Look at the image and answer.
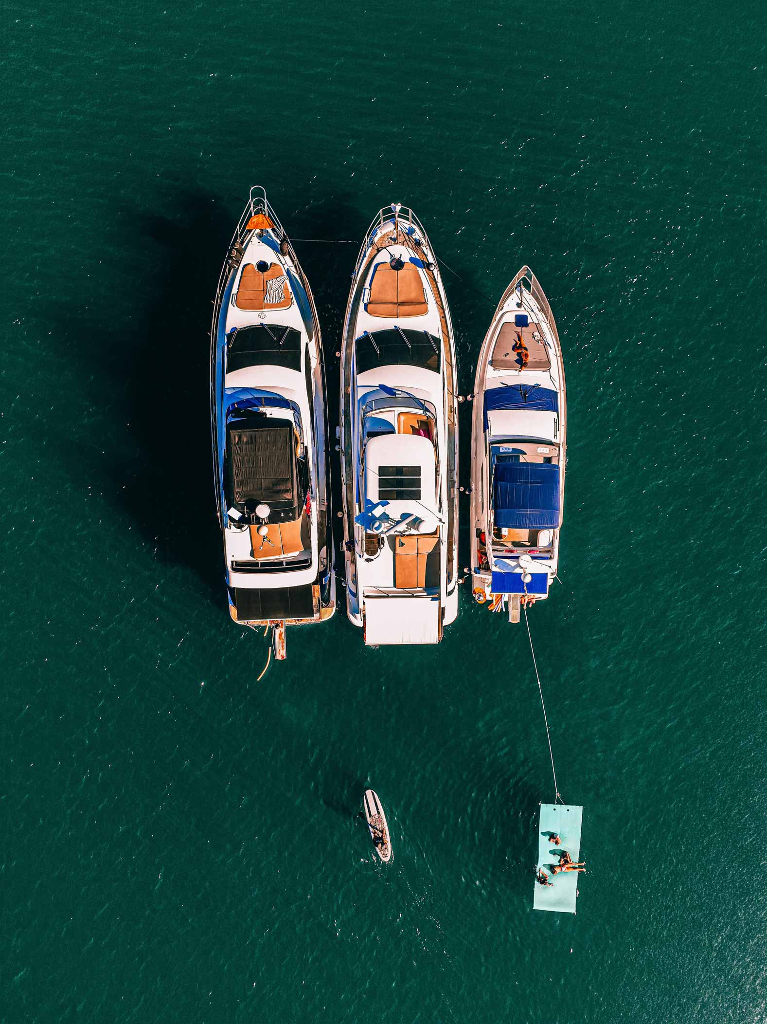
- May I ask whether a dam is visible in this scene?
No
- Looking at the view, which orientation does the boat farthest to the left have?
from top to bottom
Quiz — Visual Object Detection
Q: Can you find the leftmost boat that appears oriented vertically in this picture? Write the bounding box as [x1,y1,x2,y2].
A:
[209,185,337,660]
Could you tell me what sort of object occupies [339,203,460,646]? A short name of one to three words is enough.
boat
